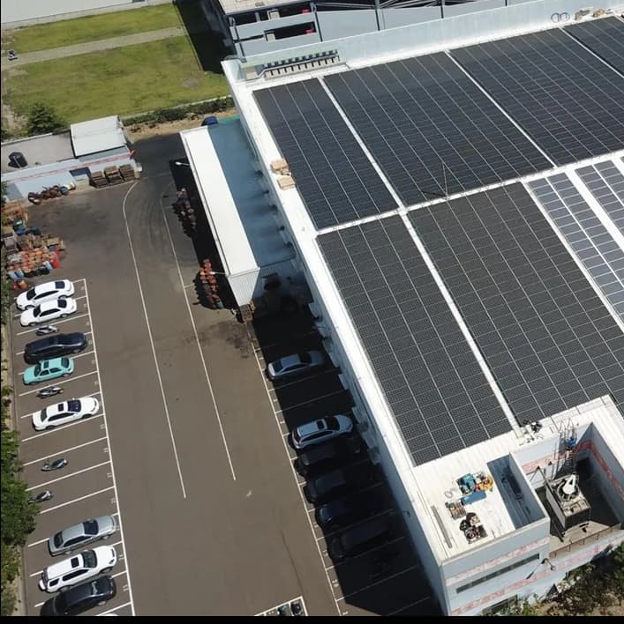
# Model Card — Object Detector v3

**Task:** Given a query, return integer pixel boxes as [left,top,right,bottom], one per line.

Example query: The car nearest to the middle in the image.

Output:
[266,350,326,383]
